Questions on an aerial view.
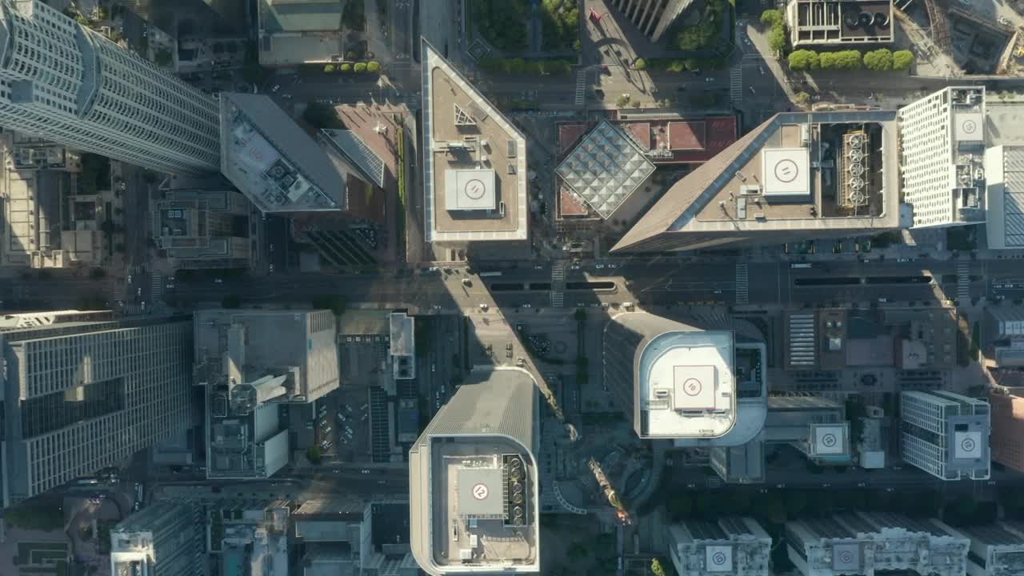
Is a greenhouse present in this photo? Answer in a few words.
Yes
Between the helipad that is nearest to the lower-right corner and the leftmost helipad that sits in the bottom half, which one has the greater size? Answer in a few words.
the leftmost helipad that sits in the bottom half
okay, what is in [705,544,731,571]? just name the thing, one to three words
helipad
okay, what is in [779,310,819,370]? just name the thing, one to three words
building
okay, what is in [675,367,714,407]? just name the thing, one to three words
helipad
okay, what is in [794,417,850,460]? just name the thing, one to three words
building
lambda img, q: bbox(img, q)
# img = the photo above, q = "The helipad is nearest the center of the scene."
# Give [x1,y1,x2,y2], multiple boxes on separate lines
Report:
[446,170,496,210]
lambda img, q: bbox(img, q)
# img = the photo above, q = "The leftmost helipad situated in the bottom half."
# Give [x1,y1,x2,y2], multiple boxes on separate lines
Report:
[459,467,504,515]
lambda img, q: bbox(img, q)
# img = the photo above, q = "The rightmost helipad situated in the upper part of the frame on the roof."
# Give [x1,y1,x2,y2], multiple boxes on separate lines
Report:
[954,113,983,141]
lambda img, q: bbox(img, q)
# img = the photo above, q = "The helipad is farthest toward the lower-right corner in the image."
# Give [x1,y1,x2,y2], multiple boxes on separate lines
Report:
[954,432,981,458]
